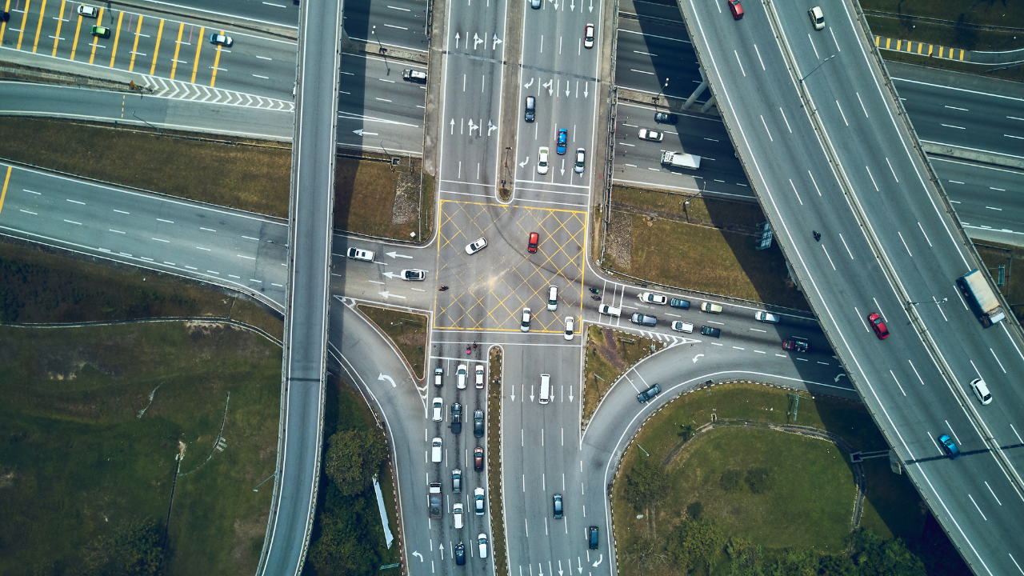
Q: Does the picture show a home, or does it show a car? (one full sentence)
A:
Visible in the photo is a car.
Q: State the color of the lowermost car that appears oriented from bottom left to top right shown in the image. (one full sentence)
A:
The lowermost car that appears oriented from bottom left to top right is blue.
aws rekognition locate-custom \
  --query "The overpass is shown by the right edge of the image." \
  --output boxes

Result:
[675,0,1024,576]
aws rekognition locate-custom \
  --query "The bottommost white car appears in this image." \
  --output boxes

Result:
[477,532,489,559]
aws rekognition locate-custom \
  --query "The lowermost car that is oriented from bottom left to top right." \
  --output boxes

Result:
[637,383,661,403]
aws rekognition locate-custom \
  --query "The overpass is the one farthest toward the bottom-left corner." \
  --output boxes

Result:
[254,0,346,576]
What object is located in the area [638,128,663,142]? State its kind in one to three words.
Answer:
car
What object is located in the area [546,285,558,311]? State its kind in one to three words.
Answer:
vehicle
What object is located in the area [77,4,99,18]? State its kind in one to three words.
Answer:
car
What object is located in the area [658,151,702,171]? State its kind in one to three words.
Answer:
vehicle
